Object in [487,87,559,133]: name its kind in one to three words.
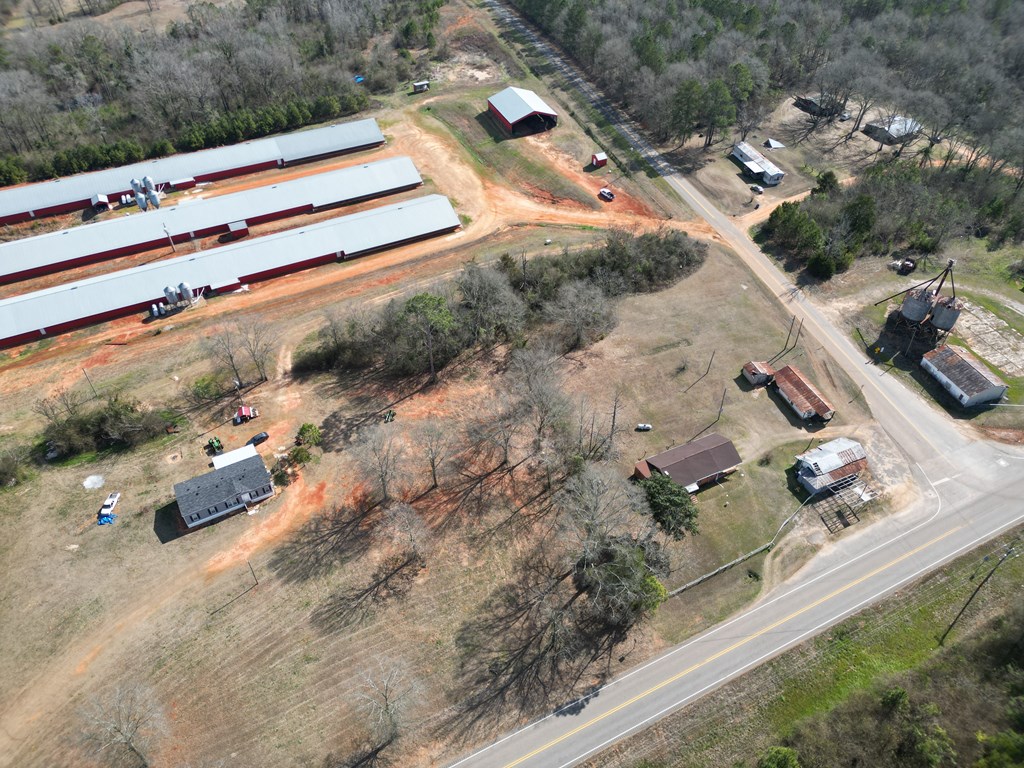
barn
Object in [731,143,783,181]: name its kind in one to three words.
house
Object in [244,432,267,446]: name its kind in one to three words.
car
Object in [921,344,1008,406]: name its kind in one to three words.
building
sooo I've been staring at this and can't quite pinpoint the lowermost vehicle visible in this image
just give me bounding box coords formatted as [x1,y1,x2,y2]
[95,490,120,516]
